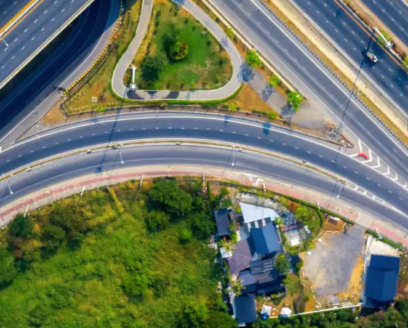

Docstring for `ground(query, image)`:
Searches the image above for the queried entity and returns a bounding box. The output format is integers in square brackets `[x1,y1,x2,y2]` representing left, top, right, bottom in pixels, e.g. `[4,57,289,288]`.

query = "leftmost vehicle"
[363,48,379,64]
